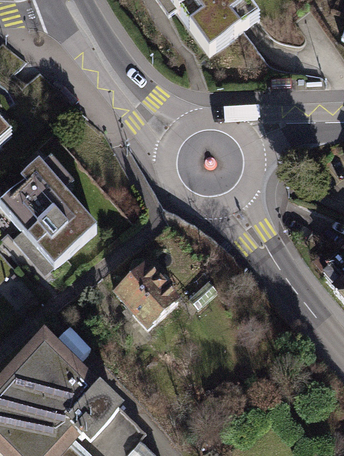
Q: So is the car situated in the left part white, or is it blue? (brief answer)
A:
white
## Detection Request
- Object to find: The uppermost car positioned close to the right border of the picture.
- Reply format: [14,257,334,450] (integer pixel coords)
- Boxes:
[330,156,344,179]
